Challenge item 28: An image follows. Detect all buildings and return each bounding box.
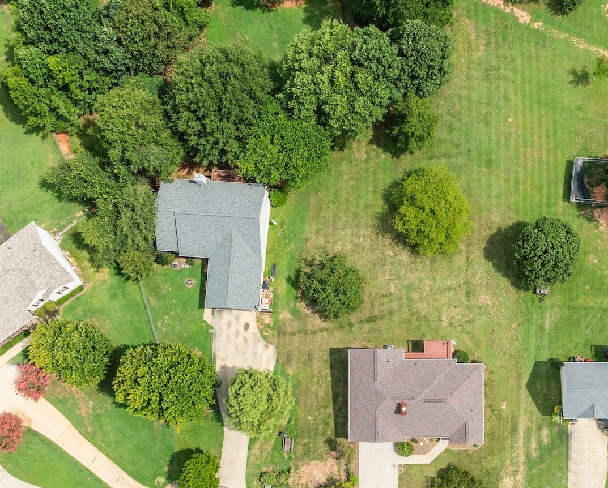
[0,221,81,348]
[153,173,268,312]
[348,348,484,446]
[560,362,608,419]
